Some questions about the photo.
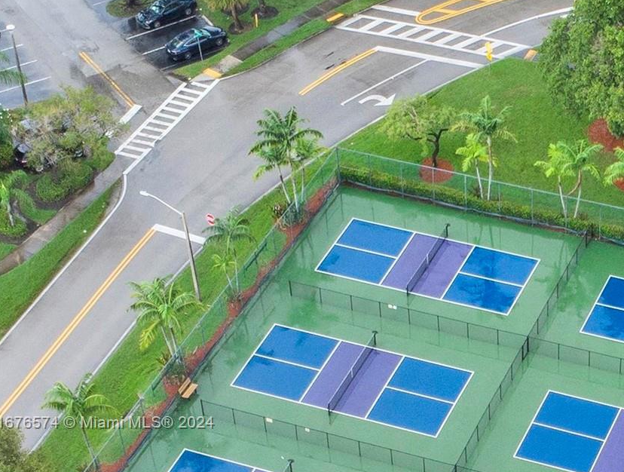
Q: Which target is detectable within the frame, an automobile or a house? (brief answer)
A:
automobile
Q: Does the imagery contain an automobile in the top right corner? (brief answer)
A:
No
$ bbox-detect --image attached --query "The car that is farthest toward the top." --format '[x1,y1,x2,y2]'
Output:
[137,0,200,34]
